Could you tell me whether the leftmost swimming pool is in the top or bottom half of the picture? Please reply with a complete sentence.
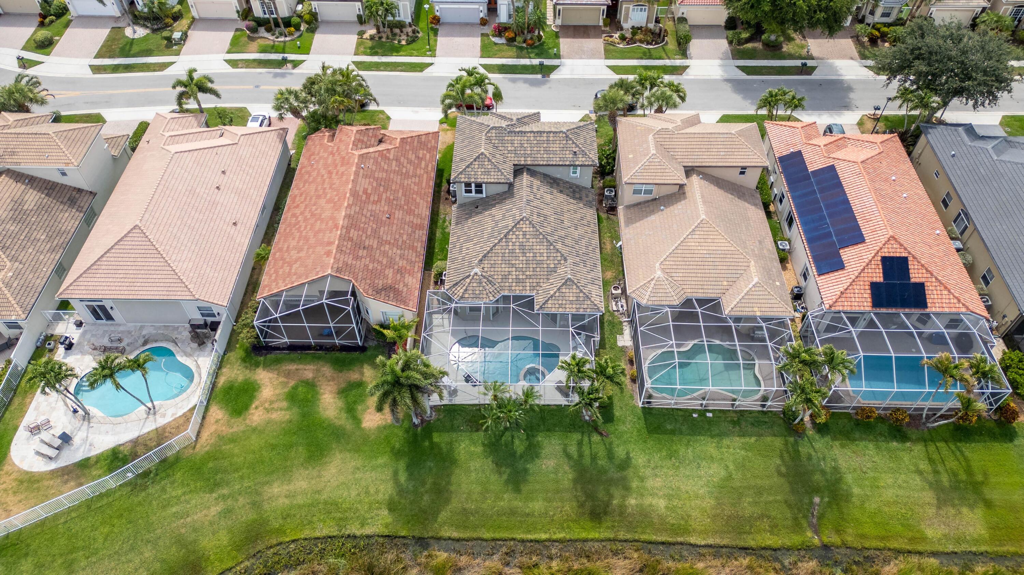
The leftmost swimming pool sits in the bottom half of the picture.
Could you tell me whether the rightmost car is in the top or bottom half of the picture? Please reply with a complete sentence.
The rightmost car sits in the top half of the picture.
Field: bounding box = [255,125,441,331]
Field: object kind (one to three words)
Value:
house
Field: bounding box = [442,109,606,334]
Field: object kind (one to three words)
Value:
house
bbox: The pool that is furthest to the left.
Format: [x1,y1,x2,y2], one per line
[70,343,198,421]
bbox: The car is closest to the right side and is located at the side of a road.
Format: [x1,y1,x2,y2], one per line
[821,110,851,135]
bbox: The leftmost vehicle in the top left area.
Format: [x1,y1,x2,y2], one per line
[242,106,271,126]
